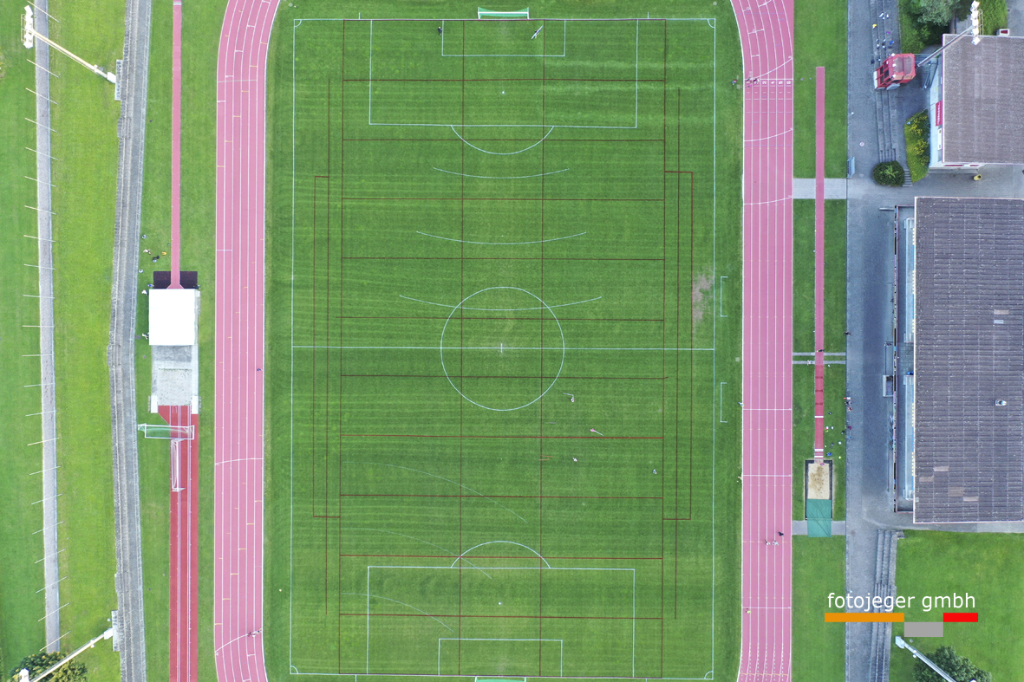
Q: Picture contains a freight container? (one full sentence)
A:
No, no freight container can be seen from above.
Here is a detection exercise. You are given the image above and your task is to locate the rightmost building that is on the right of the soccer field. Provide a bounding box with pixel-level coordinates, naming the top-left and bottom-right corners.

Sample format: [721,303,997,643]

[930,34,1024,168]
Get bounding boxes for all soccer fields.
[264,0,743,682]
